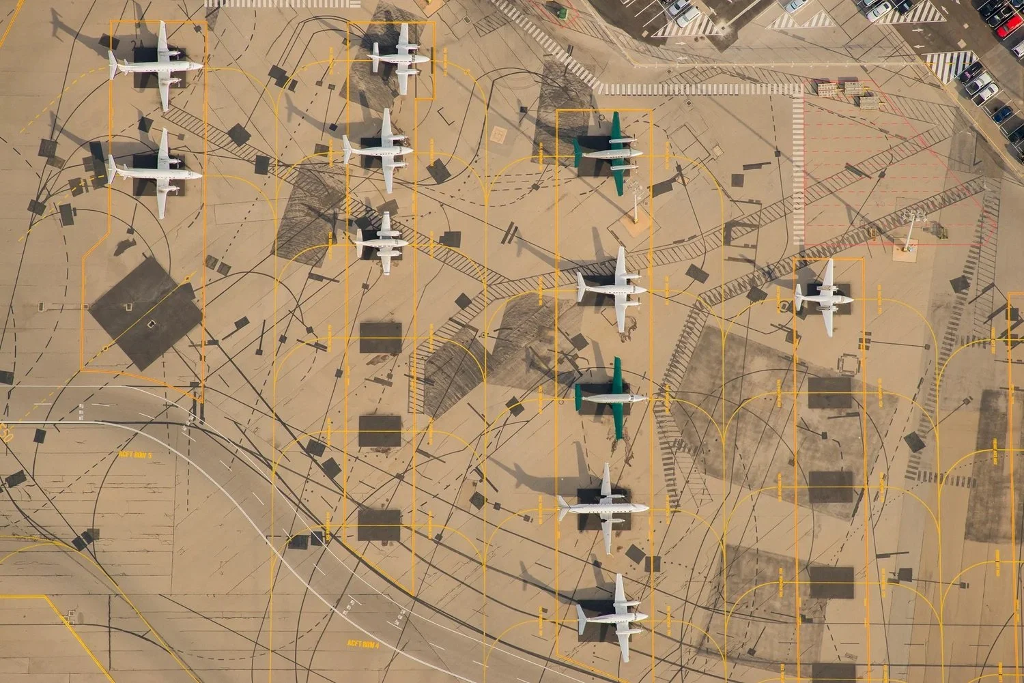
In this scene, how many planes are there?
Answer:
eleven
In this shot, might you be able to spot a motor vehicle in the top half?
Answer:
Yes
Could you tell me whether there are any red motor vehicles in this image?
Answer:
Yes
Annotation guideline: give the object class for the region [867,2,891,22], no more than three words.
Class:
car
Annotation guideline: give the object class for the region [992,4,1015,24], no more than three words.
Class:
car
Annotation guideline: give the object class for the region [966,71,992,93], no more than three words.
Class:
vehicle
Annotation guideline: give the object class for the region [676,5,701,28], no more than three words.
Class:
vehicle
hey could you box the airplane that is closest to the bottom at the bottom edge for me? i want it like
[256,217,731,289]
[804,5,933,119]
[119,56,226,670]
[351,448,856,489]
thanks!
[576,575,647,660]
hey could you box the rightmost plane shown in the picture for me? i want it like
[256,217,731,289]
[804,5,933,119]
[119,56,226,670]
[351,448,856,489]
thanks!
[794,260,853,336]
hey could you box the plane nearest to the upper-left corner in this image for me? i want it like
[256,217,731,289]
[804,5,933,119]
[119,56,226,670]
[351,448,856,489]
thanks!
[106,22,203,110]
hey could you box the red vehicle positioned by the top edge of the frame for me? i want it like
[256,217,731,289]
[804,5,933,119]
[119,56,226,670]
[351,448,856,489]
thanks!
[1000,15,1023,35]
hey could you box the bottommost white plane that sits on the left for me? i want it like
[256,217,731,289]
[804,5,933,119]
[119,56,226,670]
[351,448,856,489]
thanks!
[351,212,408,273]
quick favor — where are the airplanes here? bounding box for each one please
[576,575,647,660]
[366,25,430,92]
[558,464,650,553]
[573,114,643,194]
[351,212,408,273]
[794,260,853,336]
[342,110,414,191]
[573,356,647,440]
[104,128,202,217]
[106,22,203,110]
[576,249,646,331]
